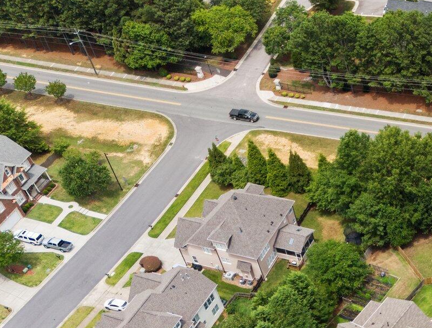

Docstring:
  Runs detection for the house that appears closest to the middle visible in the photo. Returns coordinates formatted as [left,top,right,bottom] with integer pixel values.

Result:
[167,178,316,282]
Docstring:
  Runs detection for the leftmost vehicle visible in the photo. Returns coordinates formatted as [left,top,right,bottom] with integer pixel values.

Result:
[11,229,43,245]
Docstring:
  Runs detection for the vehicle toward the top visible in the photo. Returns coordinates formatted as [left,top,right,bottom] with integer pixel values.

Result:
[228,111,257,124]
